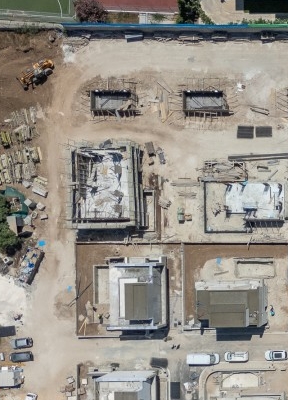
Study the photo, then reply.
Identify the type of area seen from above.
residential area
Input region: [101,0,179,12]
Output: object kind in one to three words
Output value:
sports court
